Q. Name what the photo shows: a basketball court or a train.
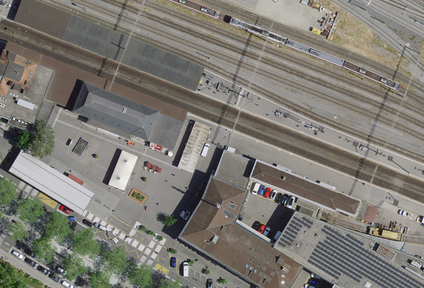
train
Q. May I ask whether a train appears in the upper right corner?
Yes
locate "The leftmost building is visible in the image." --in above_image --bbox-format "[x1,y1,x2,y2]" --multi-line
[0,48,54,130]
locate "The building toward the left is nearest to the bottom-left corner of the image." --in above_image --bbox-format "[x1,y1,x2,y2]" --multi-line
[109,150,138,190]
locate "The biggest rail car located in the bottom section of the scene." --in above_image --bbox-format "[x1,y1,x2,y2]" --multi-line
[382,230,402,242]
